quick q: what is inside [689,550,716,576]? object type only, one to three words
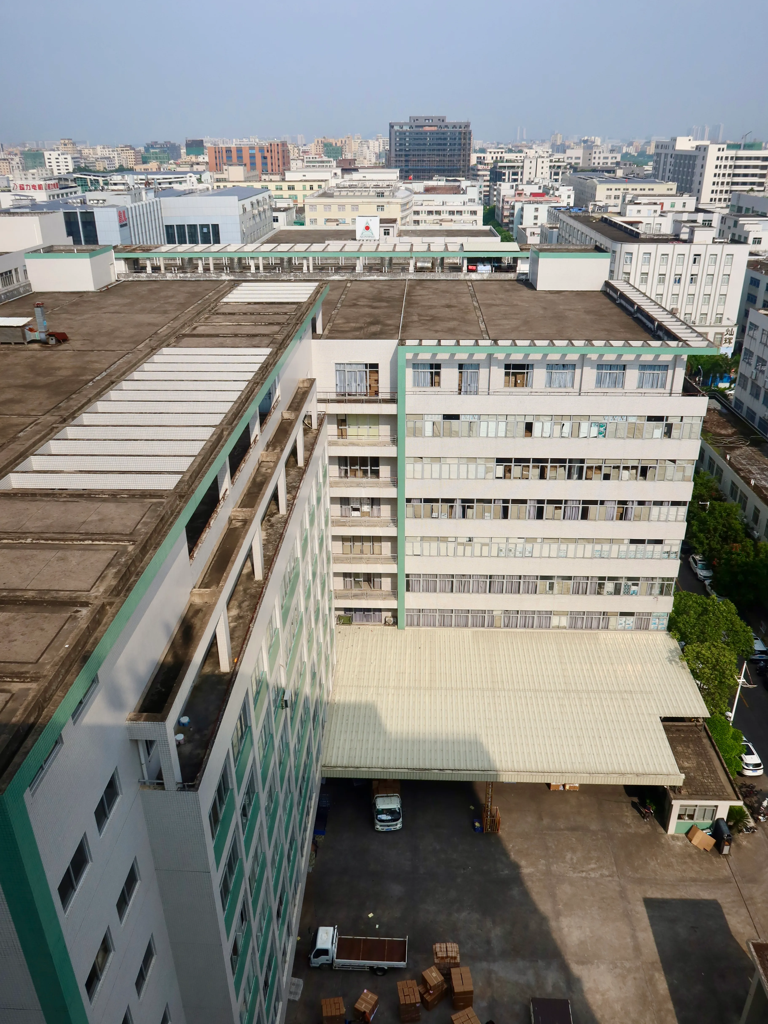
car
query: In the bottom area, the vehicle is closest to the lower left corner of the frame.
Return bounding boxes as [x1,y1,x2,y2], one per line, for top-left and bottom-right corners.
[307,920,408,971]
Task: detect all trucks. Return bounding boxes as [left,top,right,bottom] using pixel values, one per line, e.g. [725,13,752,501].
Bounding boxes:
[371,778,406,824]
[307,920,408,971]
